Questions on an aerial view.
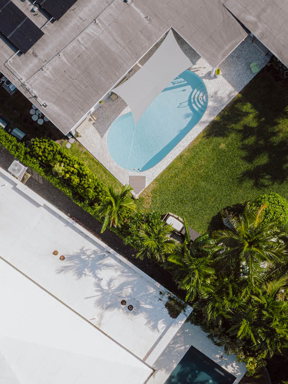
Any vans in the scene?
No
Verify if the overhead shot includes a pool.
Yes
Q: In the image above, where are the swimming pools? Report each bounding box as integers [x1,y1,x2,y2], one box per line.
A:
[104,67,210,176]
[164,347,237,384]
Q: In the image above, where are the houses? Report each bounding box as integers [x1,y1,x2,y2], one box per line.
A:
[0,0,288,140]
[0,168,192,384]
